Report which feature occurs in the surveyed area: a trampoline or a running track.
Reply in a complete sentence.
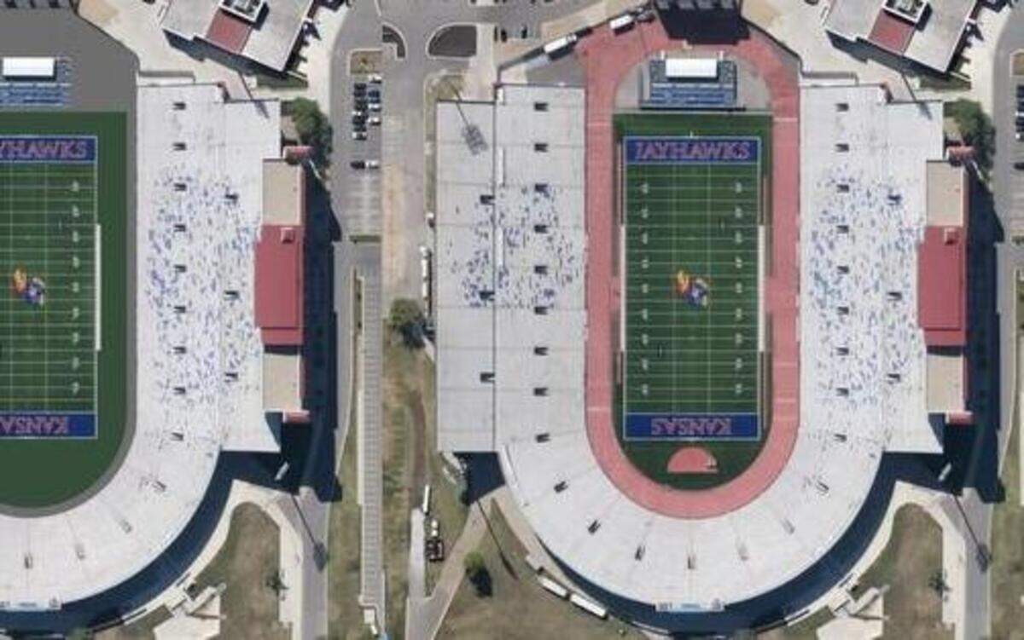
It is a running track that can be seen here.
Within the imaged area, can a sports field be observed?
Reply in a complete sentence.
Yes, I can see a sports field in this picture.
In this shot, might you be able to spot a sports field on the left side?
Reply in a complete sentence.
Yes, a sports field can be seen on the left side.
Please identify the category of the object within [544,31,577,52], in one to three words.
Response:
truck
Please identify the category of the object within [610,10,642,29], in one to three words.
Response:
vehicle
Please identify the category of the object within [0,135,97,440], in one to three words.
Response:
sports field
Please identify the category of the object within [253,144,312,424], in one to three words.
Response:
building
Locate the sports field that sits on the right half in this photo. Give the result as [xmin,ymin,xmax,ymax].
[624,136,760,442]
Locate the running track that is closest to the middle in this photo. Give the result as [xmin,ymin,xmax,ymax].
[575,4,800,518]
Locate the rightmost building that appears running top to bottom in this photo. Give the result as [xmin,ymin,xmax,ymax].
[921,144,979,424]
